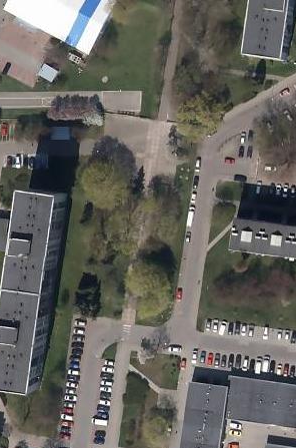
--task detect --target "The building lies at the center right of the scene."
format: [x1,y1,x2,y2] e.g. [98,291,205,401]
[228,219,296,261]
